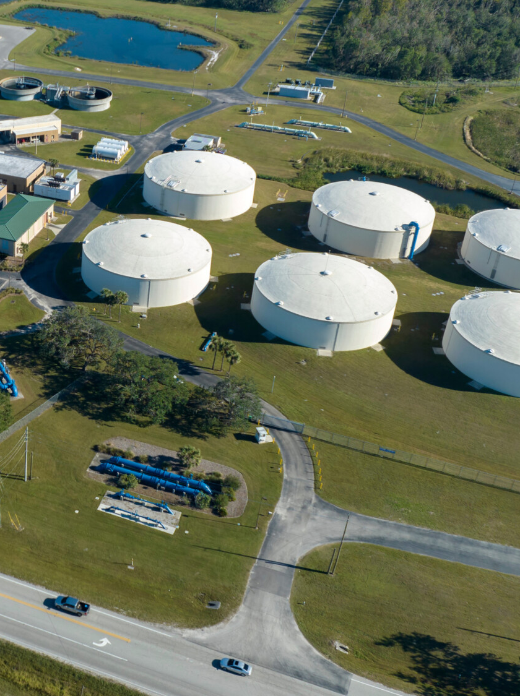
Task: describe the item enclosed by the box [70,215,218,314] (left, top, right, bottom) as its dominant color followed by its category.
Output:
white storage tank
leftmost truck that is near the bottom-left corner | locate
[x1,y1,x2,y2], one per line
[55,594,92,617]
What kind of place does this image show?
industrial area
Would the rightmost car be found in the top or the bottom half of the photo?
bottom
